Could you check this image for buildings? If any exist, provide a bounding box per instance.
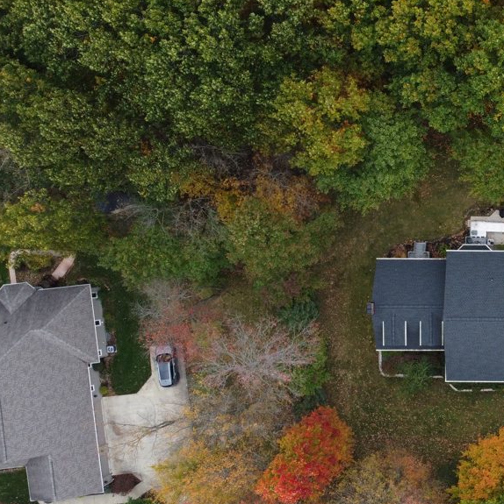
[366,244,504,384]
[0,281,113,502]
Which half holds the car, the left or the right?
left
